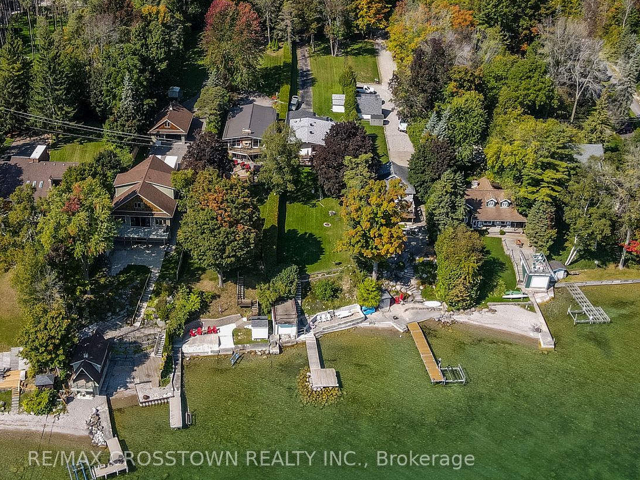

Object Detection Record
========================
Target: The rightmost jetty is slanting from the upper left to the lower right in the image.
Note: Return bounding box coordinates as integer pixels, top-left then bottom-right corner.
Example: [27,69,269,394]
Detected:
[566,280,612,328]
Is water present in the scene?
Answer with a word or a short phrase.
Yes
